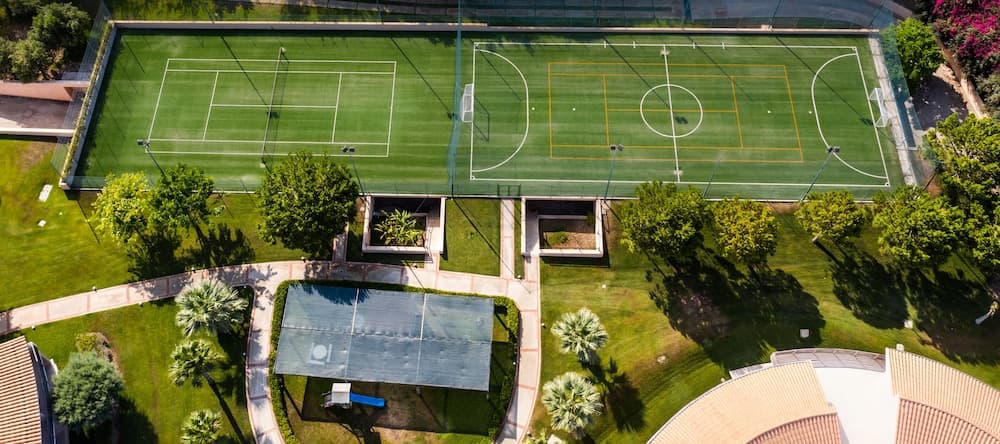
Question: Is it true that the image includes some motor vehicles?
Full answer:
No, this view has no motor vehicle in it.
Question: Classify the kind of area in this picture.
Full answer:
The area seen from above is a sports ground.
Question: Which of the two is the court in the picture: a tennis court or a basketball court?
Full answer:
It looks like the court is a tennis court.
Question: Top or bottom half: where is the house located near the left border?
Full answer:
The house located near the left border is in the bottom half of the image.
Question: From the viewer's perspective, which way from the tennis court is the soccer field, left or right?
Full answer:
Looking at the picture, you'll find the soccer field to the right of the tennis court.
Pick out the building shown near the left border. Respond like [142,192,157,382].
[0,334,92,444]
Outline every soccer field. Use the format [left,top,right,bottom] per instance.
[448,30,907,202]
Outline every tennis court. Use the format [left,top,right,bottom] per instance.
[72,27,459,194]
